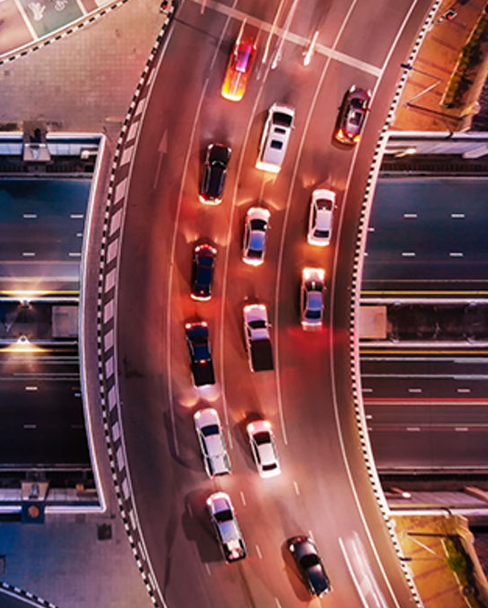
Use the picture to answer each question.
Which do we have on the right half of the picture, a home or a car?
car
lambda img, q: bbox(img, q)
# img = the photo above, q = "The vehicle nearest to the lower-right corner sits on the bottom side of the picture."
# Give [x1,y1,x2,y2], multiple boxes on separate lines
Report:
[341,547,388,608]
